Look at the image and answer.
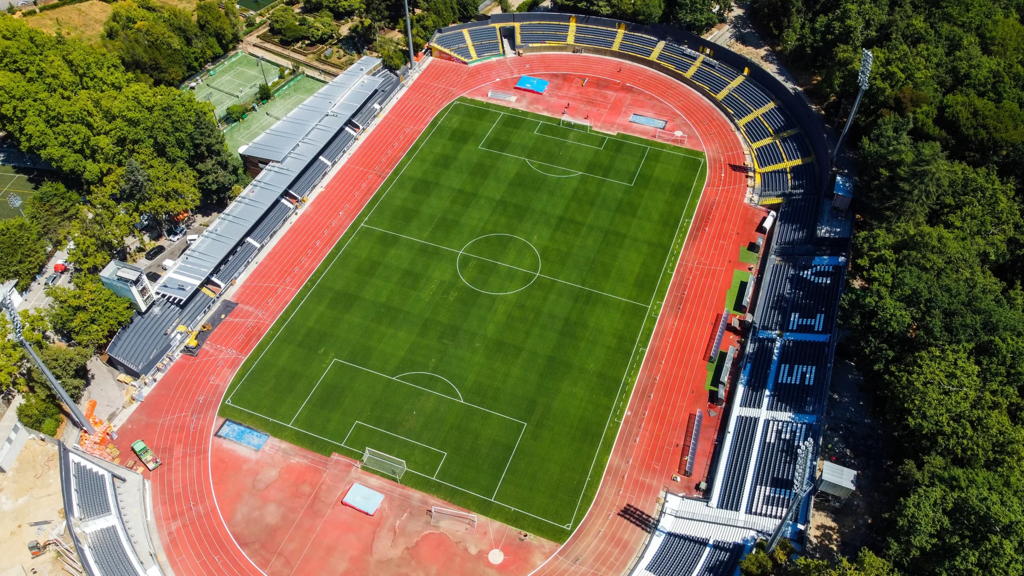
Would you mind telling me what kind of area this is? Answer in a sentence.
It's a sports ground.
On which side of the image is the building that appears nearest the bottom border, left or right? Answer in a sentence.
The building that appears nearest the bottom border is on the right side of the image.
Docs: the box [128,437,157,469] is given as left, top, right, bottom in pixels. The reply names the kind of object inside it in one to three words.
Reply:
truck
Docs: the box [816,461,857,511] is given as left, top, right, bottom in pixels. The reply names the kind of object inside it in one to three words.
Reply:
building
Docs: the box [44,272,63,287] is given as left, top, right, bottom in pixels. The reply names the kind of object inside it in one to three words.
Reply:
car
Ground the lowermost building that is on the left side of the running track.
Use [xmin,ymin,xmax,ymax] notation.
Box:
[0,423,39,495]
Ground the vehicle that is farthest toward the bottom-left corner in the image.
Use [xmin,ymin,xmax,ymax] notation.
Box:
[26,538,63,557]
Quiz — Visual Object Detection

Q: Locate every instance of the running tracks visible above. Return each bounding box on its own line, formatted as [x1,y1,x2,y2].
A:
[109,53,781,576]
